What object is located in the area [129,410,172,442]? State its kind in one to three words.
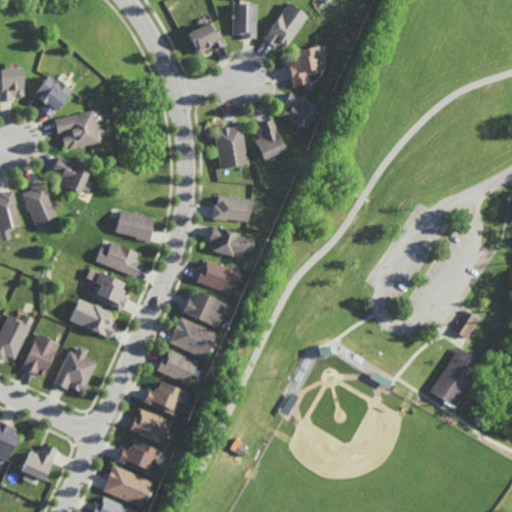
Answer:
house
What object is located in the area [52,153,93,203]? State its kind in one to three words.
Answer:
house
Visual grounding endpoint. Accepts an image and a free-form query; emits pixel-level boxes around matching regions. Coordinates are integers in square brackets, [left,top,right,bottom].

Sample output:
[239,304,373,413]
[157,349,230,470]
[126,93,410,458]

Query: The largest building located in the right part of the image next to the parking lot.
[434,347,474,408]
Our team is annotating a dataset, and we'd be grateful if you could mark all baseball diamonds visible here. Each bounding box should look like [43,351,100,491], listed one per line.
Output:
[232,358,512,512]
